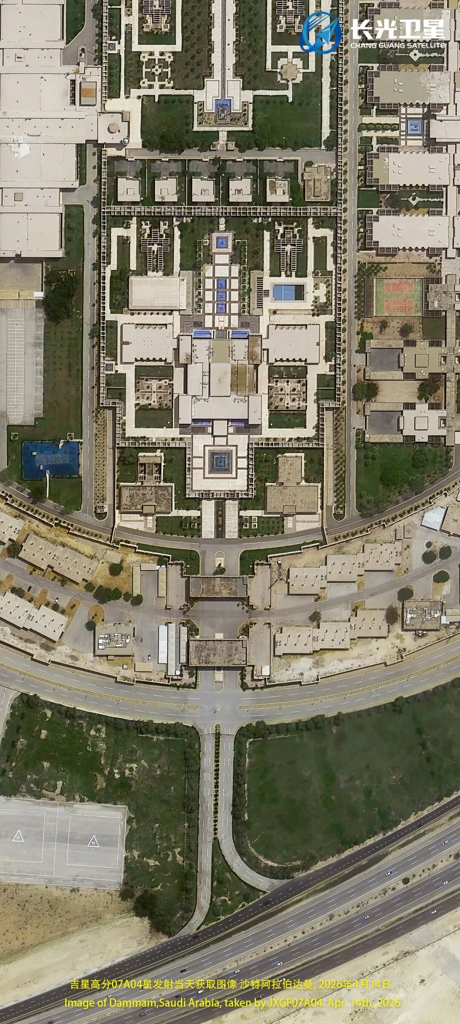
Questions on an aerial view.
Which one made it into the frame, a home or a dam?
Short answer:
home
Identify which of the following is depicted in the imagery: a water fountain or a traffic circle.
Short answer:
water fountain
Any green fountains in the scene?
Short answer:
No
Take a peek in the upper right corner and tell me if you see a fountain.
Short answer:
Yes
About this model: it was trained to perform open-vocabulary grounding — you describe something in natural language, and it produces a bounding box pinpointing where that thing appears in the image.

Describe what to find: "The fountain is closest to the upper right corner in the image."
[407,119,423,136]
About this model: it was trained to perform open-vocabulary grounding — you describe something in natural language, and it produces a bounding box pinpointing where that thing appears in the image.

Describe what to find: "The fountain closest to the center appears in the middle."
[208,450,233,474]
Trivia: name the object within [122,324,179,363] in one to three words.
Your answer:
building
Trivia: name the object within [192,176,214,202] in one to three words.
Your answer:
house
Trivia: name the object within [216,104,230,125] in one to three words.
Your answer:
fountain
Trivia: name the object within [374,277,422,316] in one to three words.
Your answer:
tennis court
